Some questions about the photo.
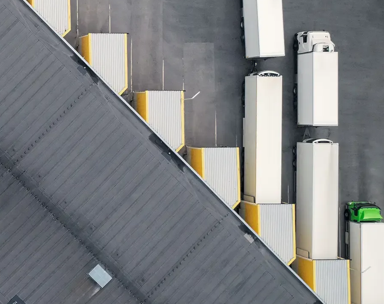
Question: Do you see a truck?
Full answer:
Yes, looking at the shot, I can spot a truck.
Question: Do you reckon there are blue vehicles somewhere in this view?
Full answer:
No, the photo shows no blue vehicle.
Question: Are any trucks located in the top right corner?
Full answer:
Yes, a truck can be seen in the top right corner.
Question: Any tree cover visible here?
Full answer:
No, no tree cover is visible.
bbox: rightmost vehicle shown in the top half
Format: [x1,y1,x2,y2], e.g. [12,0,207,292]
[290,31,338,130]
